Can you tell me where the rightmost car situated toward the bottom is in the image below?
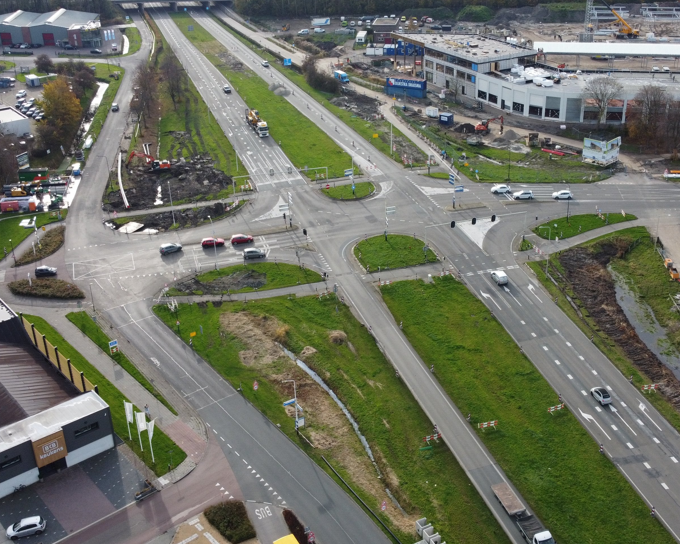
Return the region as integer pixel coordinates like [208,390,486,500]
[586,383,617,404]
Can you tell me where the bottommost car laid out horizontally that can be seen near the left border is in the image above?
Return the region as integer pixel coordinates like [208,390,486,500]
[0,515,50,540]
